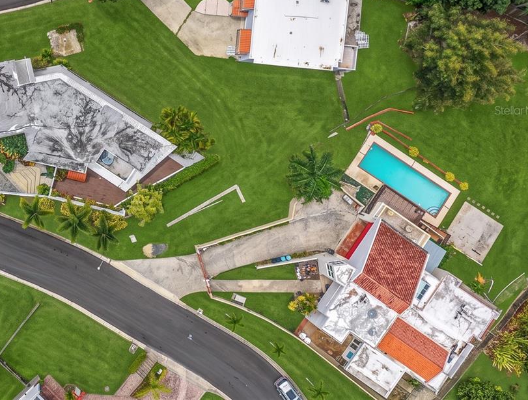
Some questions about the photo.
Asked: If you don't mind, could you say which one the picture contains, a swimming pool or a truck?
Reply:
swimming pool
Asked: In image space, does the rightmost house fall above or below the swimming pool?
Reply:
below it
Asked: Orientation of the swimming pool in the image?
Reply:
on a diagonal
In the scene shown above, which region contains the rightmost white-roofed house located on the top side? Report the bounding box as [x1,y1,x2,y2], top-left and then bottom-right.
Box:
[227,0,358,70]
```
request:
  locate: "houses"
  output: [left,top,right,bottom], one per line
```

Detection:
[305,204,504,399]
[17,372,43,400]
[0,58,178,193]
[227,0,358,70]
